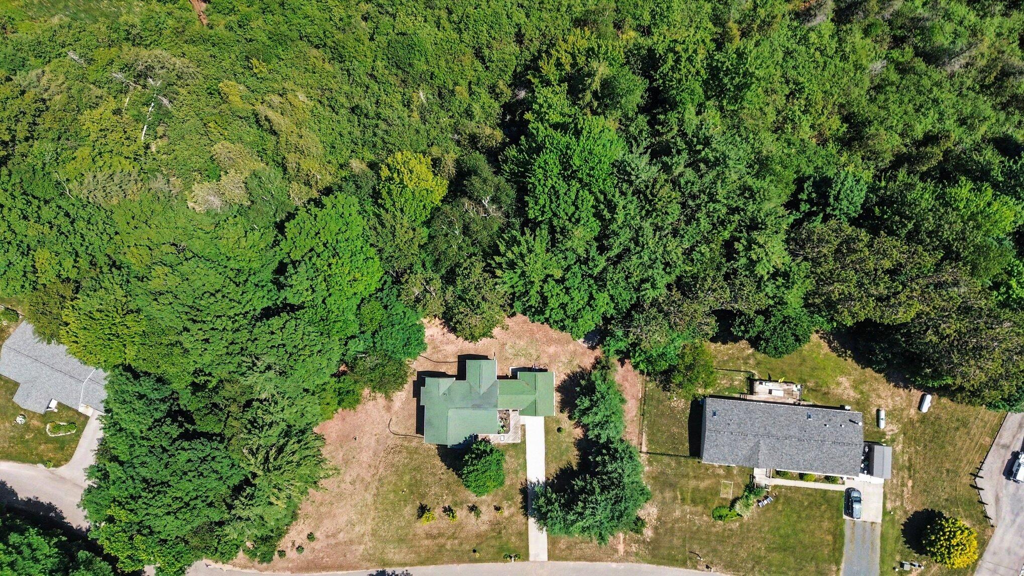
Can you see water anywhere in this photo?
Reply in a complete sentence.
No, the picture contains no water.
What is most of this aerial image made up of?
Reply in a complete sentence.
What you mostly see from above here is trees.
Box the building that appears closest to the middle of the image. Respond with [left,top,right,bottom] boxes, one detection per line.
[421,359,555,447]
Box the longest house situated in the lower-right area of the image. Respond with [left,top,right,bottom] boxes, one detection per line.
[699,397,866,477]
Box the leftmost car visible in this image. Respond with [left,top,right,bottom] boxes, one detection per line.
[844,487,862,519]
